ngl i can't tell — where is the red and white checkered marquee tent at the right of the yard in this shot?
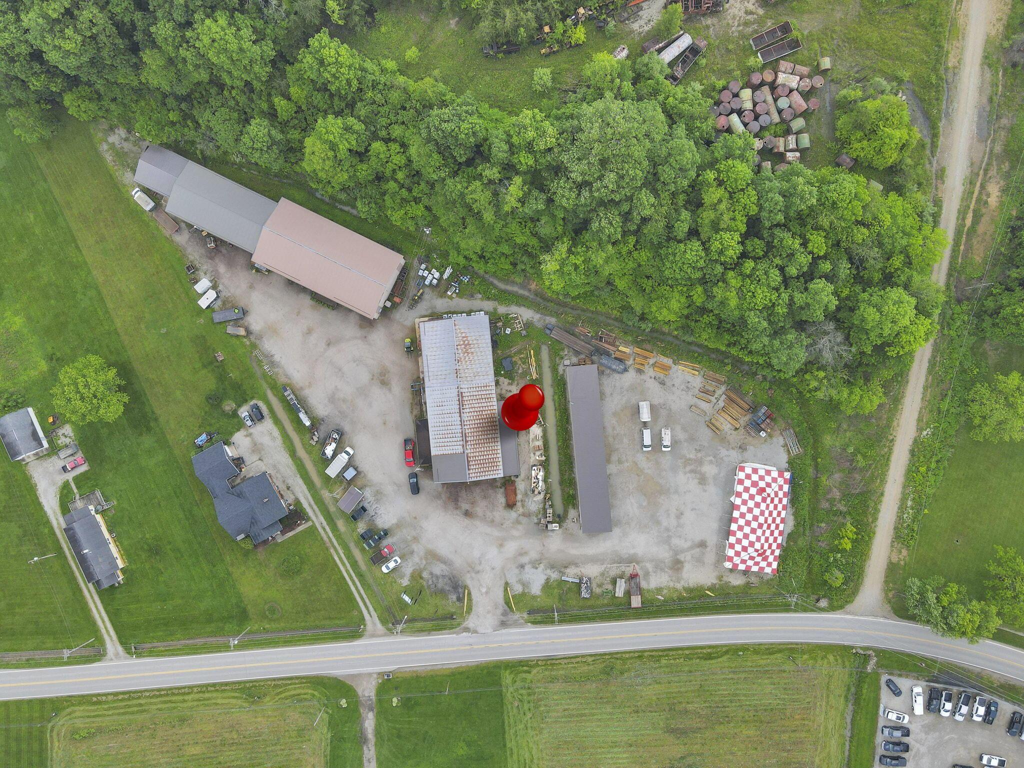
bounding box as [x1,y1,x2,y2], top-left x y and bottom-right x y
[716,458,790,578]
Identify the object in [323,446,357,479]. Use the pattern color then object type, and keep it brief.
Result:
white truck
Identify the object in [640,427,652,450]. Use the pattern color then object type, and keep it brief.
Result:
white vehicle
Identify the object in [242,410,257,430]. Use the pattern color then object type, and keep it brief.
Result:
gray car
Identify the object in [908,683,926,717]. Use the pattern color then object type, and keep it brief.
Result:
white vehicle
